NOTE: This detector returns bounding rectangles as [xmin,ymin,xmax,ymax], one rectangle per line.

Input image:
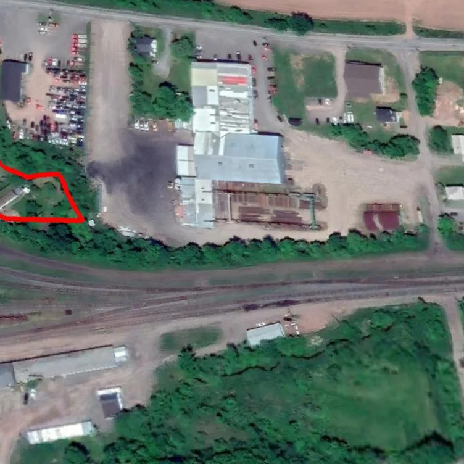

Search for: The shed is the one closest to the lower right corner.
[246,323,286,345]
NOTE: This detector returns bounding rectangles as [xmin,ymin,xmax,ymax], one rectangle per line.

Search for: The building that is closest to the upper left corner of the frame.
[0,61,31,103]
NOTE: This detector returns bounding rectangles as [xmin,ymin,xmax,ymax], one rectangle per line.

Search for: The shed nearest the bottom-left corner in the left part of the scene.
[27,421,95,443]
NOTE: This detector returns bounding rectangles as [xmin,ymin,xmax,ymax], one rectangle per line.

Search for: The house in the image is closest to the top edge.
[135,39,156,59]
